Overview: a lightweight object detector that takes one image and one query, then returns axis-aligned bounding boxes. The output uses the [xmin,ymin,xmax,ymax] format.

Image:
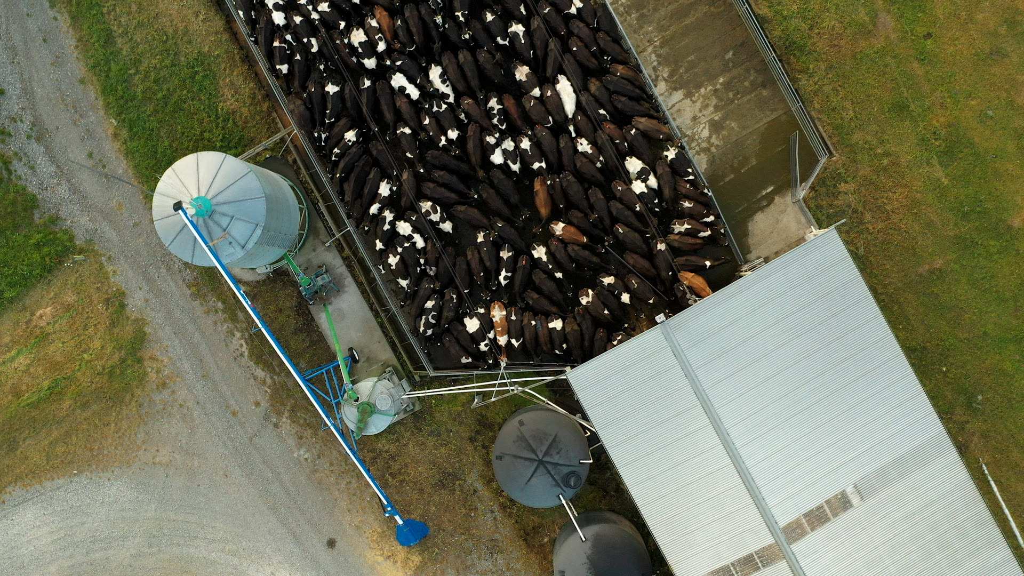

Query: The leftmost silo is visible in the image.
[151,151,309,276]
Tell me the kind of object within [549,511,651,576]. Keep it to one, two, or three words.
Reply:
water tank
